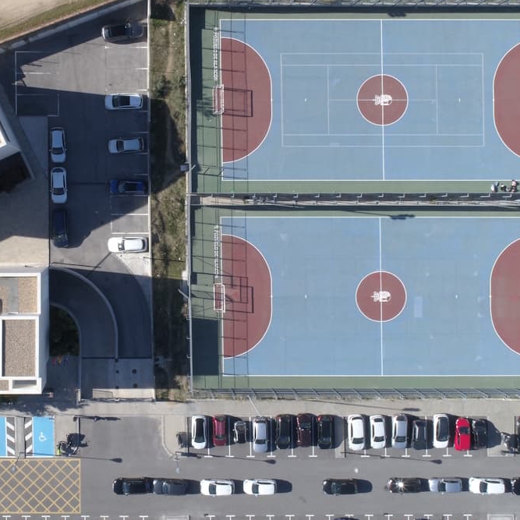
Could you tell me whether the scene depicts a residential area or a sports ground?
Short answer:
sports ground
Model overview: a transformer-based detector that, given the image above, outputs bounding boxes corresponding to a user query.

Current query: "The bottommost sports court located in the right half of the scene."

[192,208,520,389]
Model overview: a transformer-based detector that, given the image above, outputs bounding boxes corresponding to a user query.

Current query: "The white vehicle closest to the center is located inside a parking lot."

[108,236,148,254]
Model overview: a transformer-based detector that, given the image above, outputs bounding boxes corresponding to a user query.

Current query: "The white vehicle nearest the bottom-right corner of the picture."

[467,477,506,497]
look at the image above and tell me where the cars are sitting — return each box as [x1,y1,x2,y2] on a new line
[274,413,292,449]
[410,418,429,449]
[391,414,409,448]
[316,414,335,448]
[452,416,472,451]
[369,414,388,448]
[114,477,151,496]
[199,478,234,497]
[427,477,462,495]
[323,477,358,497]
[108,136,146,155]
[431,412,451,448]
[212,414,228,446]
[470,417,489,448]
[242,478,276,497]
[387,477,423,495]
[48,127,67,164]
[108,236,148,254]
[105,92,142,111]
[252,415,270,452]
[153,478,188,497]
[233,419,247,443]
[296,412,313,447]
[510,477,520,494]
[467,477,506,497]
[347,414,365,450]
[51,208,69,247]
[190,414,208,449]
[49,166,67,205]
